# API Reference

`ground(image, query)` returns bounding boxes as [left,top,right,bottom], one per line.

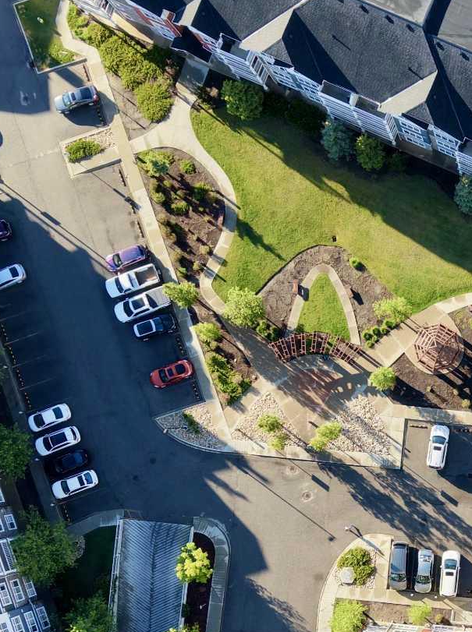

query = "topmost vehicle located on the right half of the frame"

[426,425,450,470]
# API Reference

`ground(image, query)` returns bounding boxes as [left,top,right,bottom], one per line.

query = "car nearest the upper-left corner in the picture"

[54,83,102,112]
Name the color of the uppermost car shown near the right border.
white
